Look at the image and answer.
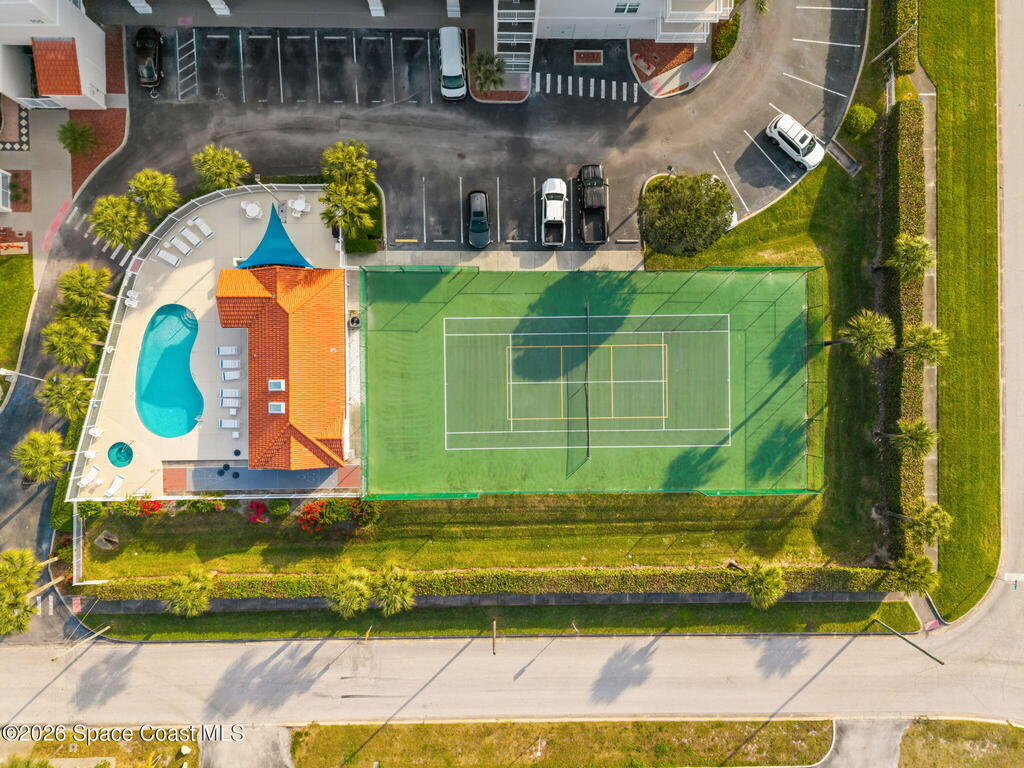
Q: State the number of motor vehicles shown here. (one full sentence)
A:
Altogether the scene contains 6 motor vehicles.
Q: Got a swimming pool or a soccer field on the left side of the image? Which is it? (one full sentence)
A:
You can see a swimming pool on the left side of the image.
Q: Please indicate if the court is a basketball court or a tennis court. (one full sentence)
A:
The court is a tennis court.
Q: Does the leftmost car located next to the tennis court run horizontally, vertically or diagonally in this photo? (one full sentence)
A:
The leftmost car located next to the tennis court has been laid out vertically relative to the frame.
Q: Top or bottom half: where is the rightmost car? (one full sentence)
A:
It is in the top half that the rightmost car appears.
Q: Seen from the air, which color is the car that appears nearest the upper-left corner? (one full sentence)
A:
The car that appears nearest the upper-left corner is black.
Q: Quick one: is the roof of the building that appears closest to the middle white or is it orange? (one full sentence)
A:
The roof of the building that appears closest to the middle looks orange in the image.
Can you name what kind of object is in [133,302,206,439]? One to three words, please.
swimming pool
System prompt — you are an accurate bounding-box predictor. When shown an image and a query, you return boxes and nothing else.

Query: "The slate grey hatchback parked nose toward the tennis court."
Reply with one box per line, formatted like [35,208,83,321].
[465,193,493,249]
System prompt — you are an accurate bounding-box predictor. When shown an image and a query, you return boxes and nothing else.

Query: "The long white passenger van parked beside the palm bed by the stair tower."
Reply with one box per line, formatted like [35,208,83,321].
[437,27,467,103]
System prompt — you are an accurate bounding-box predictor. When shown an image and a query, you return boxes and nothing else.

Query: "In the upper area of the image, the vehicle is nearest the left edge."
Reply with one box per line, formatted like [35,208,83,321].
[133,28,167,89]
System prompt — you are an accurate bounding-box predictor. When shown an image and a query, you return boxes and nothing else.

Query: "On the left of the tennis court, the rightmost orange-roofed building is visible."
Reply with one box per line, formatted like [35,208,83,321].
[216,265,350,472]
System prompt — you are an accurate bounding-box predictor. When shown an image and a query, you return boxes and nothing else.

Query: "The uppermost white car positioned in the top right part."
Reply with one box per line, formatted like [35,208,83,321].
[764,115,823,172]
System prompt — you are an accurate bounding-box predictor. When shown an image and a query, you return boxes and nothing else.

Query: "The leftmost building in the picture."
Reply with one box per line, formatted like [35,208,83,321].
[0,0,105,112]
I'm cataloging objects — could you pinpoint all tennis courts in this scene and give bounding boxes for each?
[366,272,807,494]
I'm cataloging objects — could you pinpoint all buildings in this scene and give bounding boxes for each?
[216,265,350,472]
[0,0,105,112]
[497,0,739,73]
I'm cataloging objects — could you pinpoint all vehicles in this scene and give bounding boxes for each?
[437,27,467,103]
[578,165,609,246]
[764,115,823,172]
[465,193,493,249]
[540,178,569,247]
[133,28,167,89]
